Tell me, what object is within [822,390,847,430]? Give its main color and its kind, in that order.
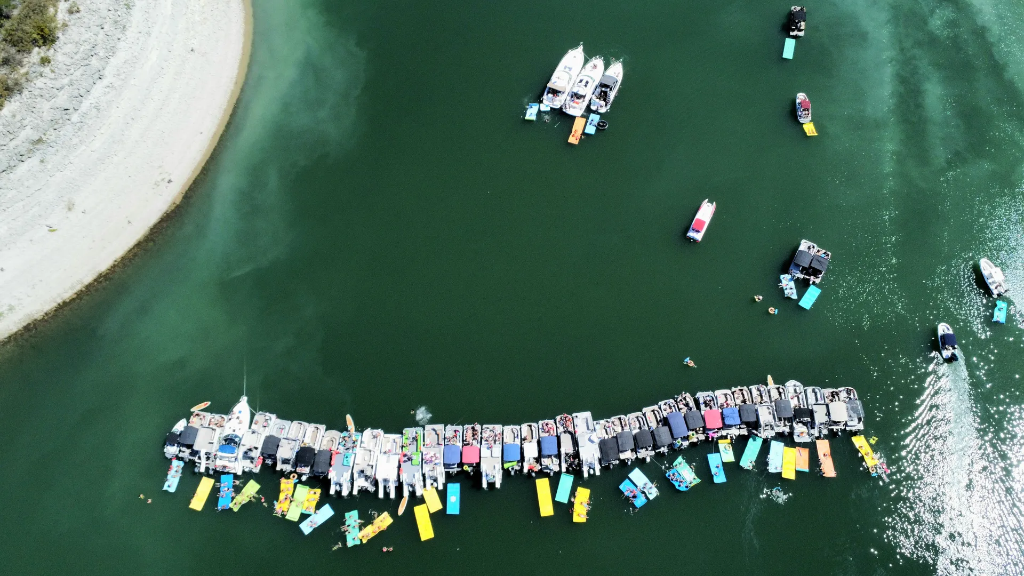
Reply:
white boat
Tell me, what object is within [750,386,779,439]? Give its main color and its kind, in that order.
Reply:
white boat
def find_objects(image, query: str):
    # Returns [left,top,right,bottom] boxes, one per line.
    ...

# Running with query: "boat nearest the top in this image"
[789,5,808,38]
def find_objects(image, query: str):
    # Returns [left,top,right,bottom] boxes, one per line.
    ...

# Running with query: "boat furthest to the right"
[979,258,1006,301]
